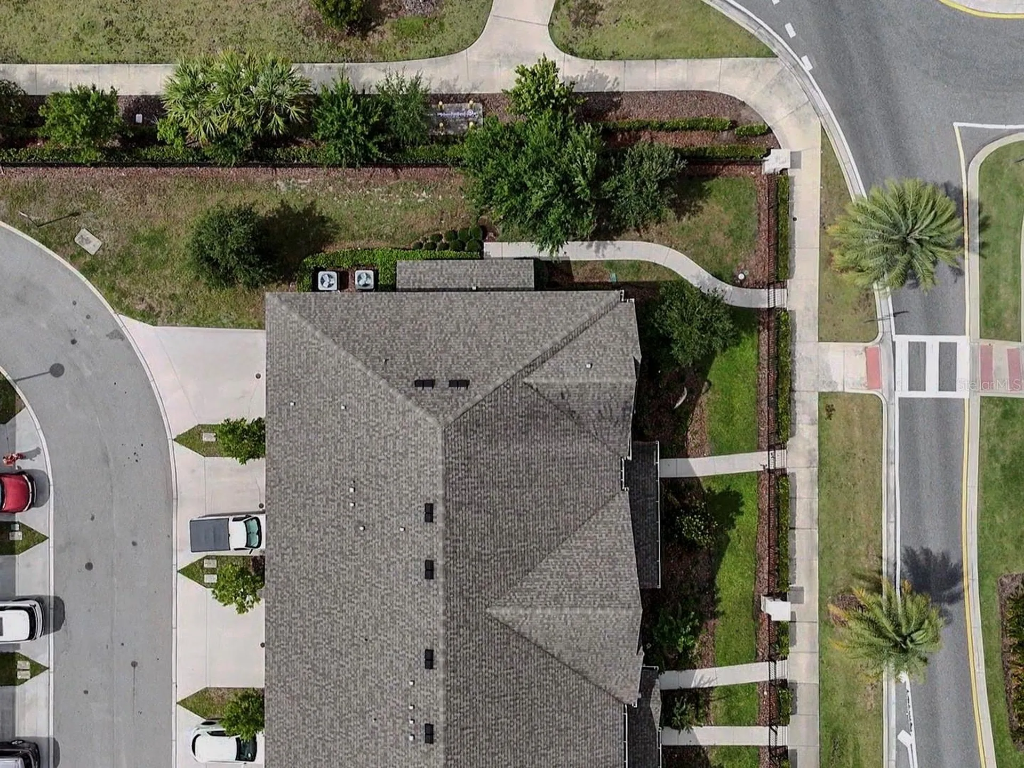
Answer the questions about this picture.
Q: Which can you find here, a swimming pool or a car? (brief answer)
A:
car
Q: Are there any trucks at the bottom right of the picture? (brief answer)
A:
No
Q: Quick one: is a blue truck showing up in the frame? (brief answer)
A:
No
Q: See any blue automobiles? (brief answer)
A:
No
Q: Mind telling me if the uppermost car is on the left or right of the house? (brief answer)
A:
to the left of it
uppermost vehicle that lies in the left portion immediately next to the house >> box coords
[188,511,265,555]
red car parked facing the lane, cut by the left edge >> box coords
[0,472,39,510]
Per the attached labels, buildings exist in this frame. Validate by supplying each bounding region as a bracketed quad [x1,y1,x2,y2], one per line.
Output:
[264,259,664,768]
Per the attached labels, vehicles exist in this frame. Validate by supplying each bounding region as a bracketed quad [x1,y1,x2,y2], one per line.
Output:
[193,715,266,763]
[0,596,47,637]
[0,735,44,768]
[188,511,265,555]
[0,472,39,510]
